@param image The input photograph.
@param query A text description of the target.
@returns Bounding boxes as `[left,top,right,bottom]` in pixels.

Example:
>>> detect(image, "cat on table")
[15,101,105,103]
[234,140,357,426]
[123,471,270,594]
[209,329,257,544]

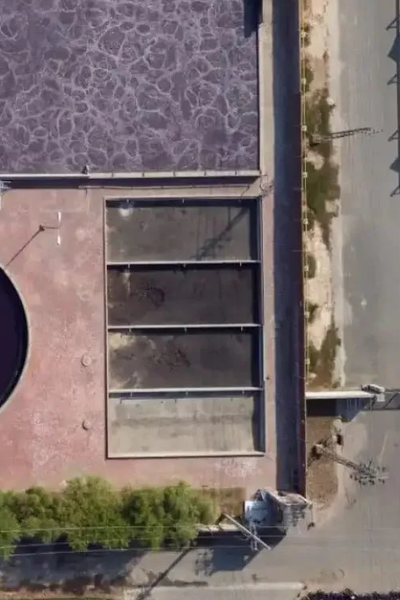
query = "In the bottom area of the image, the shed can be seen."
[262,486,313,506]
